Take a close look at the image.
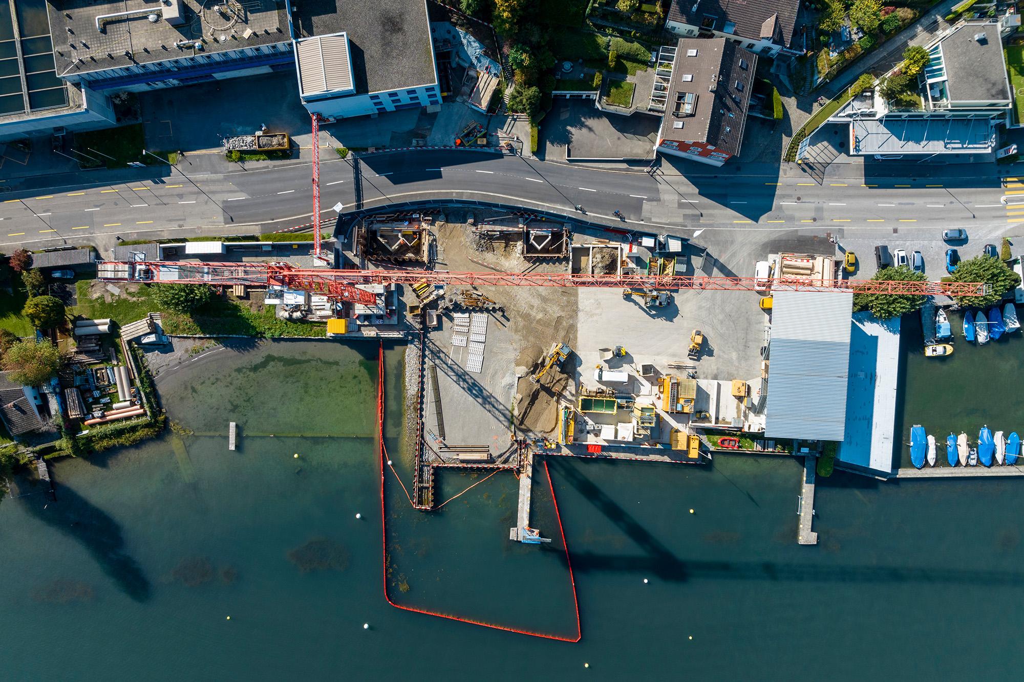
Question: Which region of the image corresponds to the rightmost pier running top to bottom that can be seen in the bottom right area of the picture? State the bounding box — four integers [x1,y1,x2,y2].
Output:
[797,456,817,544]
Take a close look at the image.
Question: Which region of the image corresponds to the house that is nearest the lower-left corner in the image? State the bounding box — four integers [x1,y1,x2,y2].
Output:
[0,373,53,435]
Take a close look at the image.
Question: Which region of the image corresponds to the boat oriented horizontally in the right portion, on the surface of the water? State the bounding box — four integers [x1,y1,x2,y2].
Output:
[923,344,953,358]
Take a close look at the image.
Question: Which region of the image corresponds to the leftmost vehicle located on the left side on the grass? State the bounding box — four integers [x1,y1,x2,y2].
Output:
[52,268,75,280]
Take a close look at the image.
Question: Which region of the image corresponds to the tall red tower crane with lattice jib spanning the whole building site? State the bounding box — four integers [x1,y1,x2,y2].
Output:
[95,251,992,323]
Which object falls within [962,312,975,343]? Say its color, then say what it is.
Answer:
blue boat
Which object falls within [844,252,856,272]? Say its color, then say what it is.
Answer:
yellow vehicle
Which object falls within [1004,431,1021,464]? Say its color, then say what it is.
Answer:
blue boat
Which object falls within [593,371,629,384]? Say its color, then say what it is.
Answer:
white vehicle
